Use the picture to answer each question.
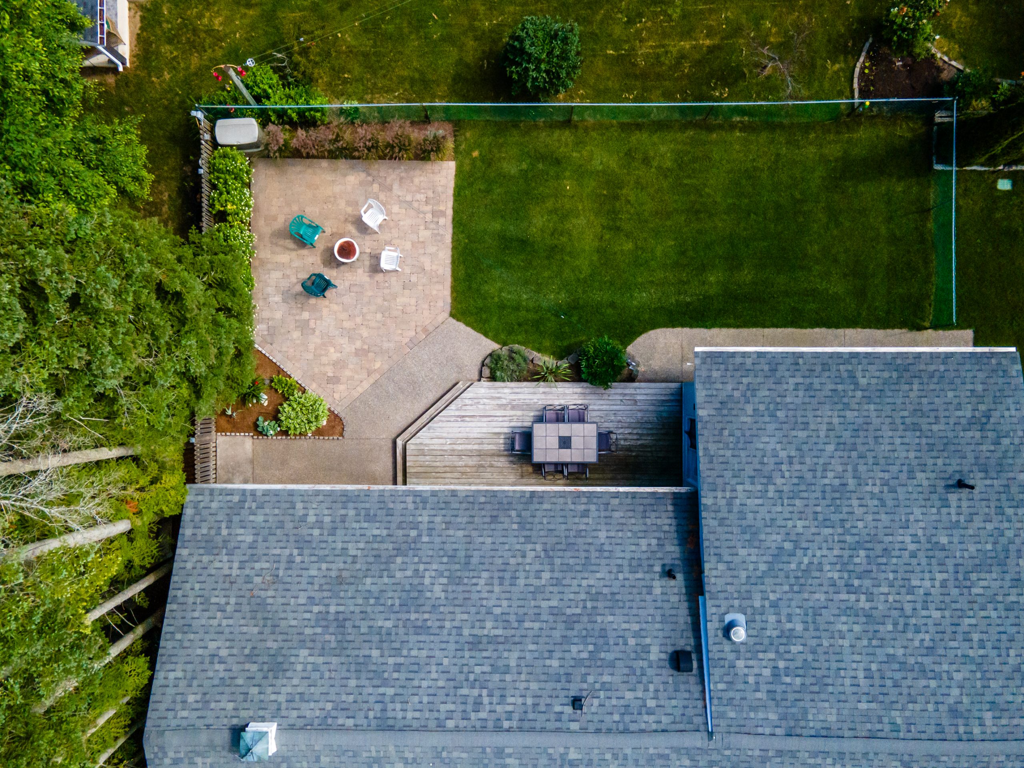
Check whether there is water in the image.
No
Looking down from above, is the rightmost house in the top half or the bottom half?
bottom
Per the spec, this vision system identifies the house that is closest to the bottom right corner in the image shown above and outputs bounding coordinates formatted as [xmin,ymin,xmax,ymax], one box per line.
[144,346,1024,768]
